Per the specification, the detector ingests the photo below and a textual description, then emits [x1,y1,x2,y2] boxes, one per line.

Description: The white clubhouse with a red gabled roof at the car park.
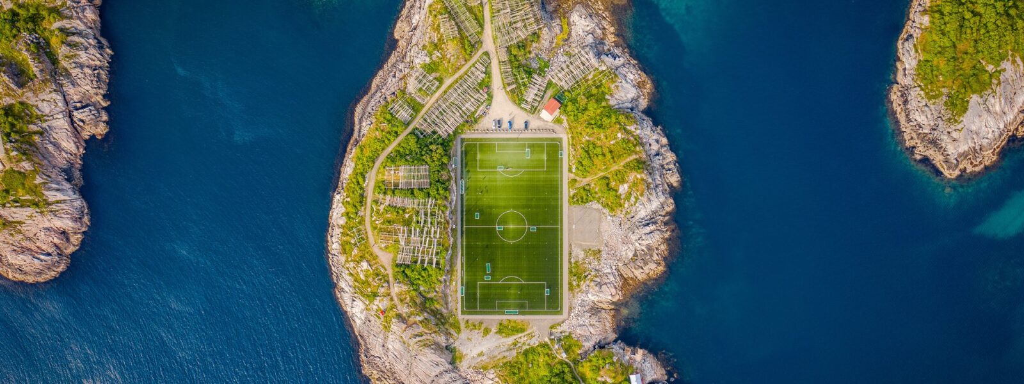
[538,98,561,125]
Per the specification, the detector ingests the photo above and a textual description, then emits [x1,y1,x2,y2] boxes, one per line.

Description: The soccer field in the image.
[460,137,563,315]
